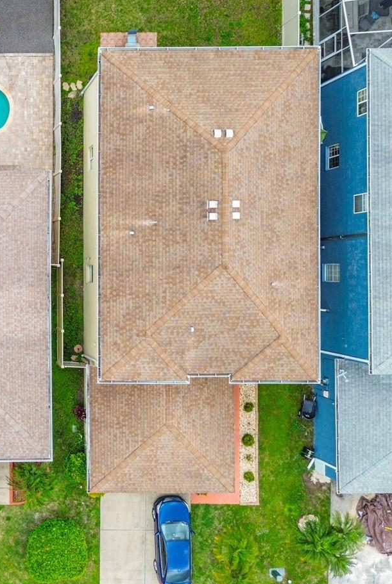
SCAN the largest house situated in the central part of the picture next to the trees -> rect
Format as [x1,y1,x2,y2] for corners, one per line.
[73,48,319,495]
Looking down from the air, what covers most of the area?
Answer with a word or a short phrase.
buildings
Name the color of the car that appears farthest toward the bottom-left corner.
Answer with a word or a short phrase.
blue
